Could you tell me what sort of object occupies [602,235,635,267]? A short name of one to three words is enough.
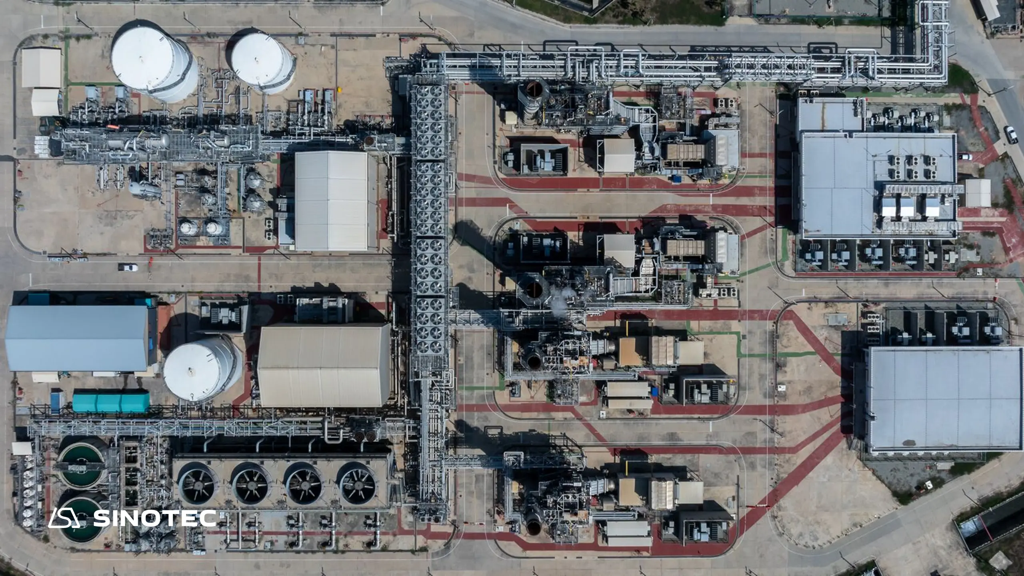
shed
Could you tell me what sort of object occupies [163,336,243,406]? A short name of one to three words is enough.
storage tank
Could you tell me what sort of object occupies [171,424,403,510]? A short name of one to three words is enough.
cooling tower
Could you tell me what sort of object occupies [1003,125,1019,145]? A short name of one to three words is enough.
vehicle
